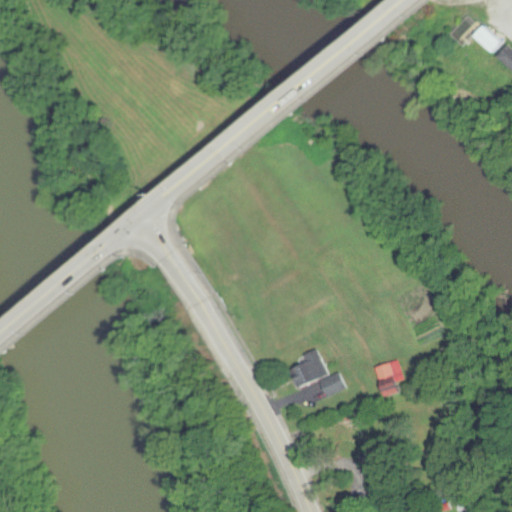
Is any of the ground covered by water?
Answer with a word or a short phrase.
Yes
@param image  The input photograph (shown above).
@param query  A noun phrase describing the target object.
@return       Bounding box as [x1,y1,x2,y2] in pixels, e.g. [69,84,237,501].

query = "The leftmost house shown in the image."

[292,348,328,387]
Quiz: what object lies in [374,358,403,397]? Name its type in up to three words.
barn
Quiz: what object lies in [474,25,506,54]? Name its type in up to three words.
building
